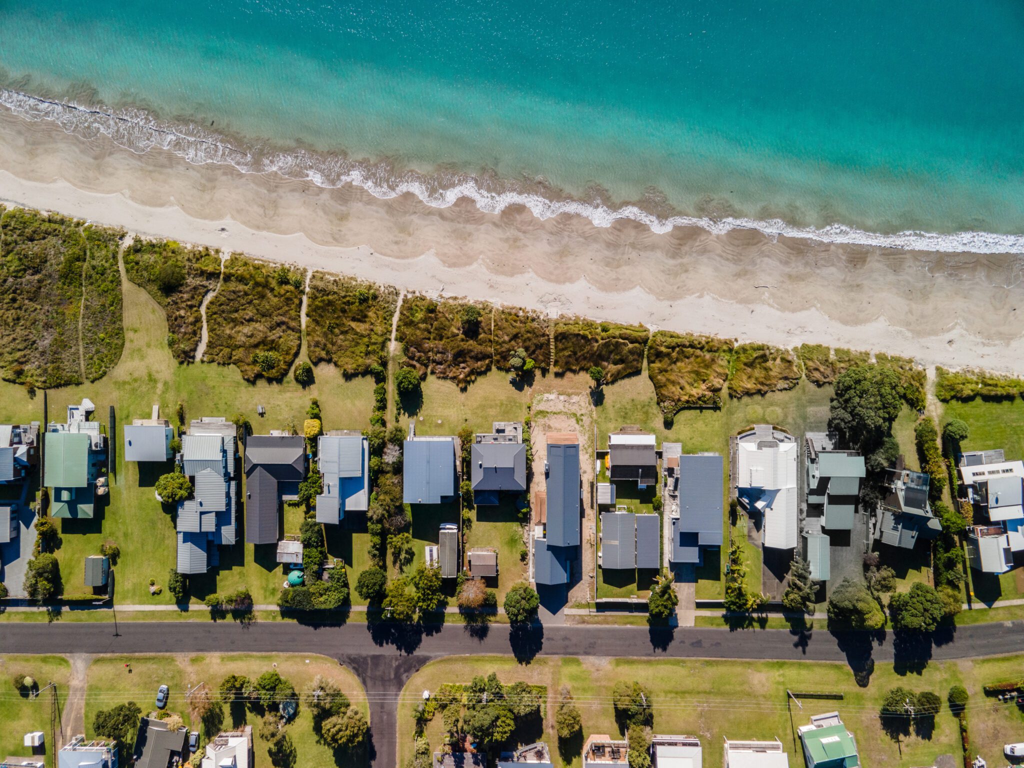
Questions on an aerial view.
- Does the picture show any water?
Yes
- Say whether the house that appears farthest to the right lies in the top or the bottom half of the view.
bottom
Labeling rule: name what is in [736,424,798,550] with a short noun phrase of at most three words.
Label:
house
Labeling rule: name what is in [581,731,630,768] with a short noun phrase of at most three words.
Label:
house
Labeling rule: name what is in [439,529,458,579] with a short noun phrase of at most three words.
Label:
building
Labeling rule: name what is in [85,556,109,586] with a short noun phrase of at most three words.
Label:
shed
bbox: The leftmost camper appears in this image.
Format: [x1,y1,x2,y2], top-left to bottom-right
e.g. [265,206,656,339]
[24,730,48,746]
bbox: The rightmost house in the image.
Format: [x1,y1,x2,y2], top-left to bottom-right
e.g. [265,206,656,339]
[953,448,1024,573]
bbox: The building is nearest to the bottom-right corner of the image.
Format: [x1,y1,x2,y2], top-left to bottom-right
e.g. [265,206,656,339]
[793,707,859,768]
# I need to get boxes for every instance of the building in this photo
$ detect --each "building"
[0,758,52,768]
[85,556,109,586]
[793,707,859,768]
[0,425,40,481]
[471,547,498,577]
[722,735,788,768]
[662,442,723,568]
[403,421,461,504]
[0,506,22,543]
[245,430,305,546]
[581,731,630,768]
[202,721,256,768]
[58,732,123,768]
[124,405,177,461]
[872,454,942,552]
[497,740,554,768]
[176,417,240,575]
[44,396,109,518]
[139,711,194,768]
[534,433,583,586]
[609,426,659,490]
[650,729,703,768]
[315,430,370,524]
[736,424,798,550]
[471,422,526,505]
[439,529,458,579]
[597,513,660,570]
[597,483,615,504]
[803,432,866,535]
[953,448,1024,573]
